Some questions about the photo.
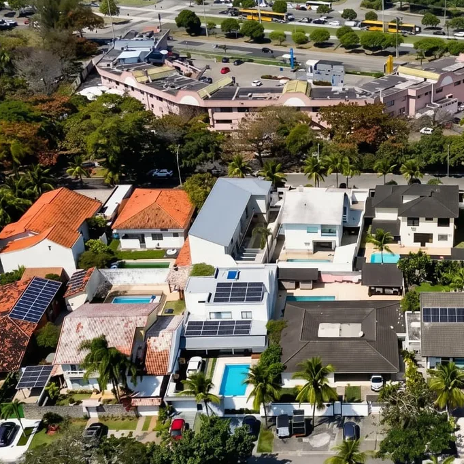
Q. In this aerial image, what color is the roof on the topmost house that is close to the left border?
orange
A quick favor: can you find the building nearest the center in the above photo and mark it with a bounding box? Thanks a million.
[176,178,273,275]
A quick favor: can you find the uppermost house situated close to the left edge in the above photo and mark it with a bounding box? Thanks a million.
[0,187,103,273]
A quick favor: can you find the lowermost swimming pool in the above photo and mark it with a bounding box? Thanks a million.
[216,362,253,398]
